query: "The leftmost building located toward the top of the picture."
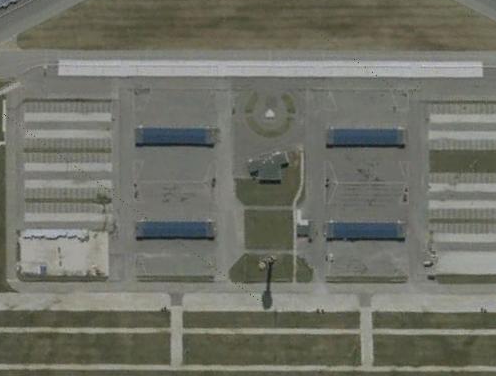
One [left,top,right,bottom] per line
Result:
[136,126,214,144]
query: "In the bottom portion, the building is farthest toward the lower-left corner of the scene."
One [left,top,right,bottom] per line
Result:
[136,221,214,238]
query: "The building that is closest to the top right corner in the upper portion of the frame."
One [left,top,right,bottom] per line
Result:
[327,127,404,145]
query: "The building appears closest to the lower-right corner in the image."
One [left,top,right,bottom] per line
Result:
[327,221,405,239]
